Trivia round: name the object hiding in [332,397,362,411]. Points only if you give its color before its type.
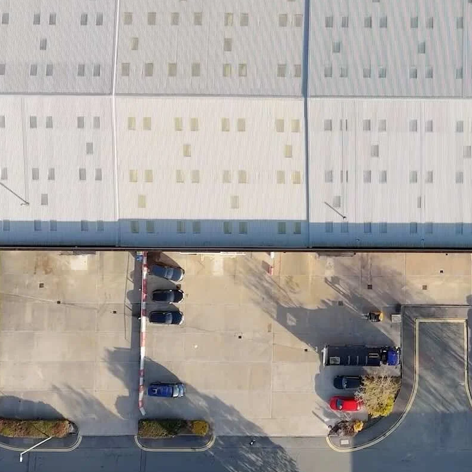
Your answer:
red car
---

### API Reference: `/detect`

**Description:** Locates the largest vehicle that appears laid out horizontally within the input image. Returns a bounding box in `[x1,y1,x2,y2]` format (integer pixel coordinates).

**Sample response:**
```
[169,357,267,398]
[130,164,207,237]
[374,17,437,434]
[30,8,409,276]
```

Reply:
[323,346,401,369]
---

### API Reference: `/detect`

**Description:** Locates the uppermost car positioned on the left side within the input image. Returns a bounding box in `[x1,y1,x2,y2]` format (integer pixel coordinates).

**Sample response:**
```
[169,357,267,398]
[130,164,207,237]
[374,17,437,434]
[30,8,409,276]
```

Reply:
[150,263,185,281]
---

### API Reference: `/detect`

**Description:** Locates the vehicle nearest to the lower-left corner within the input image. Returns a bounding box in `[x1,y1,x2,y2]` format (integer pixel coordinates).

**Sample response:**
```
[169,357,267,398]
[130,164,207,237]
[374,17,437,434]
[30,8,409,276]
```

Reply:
[146,381,185,398]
